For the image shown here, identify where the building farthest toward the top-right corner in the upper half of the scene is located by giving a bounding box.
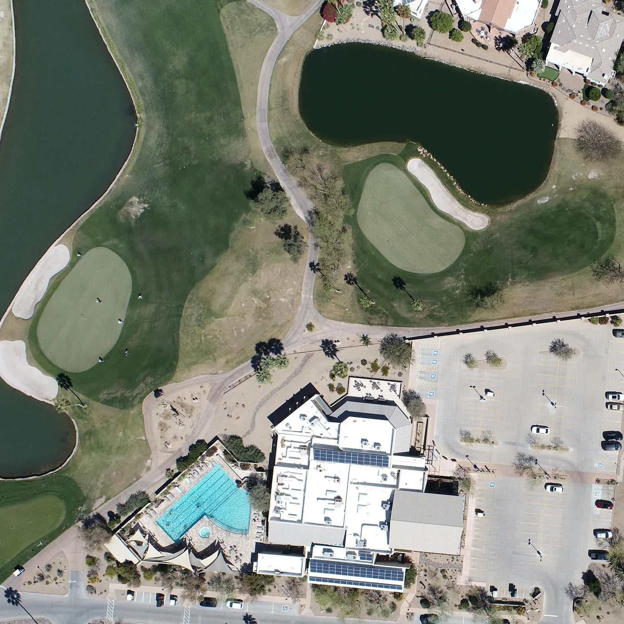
[545,0,624,88]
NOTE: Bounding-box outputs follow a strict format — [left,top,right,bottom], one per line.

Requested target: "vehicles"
[13,568,25,576]
[487,391,495,397]
[594,530,611,540]
[171,597,179,606]
[595,500,613,509]
[226,599,244,608]
[614,329,624,338]
[603,432,622,440]
[532,426,550,435]
[157,595,165,606]
[602,443,621,451]
[607,403,624,411]
[477,511,486,517]
[128,592,136,601]
[607,392,624,400]
[589,551,609,561]
[201,598,219,607]
[493,589,499,598]
[546,485,564,493]
[421,614,439,624]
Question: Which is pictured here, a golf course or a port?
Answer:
golf course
